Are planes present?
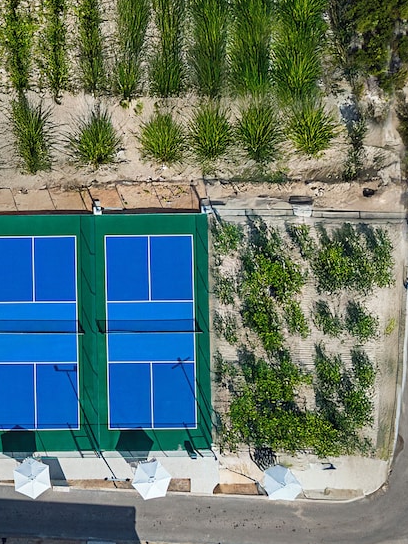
No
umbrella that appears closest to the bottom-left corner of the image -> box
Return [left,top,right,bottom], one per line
[14,457,50,496]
